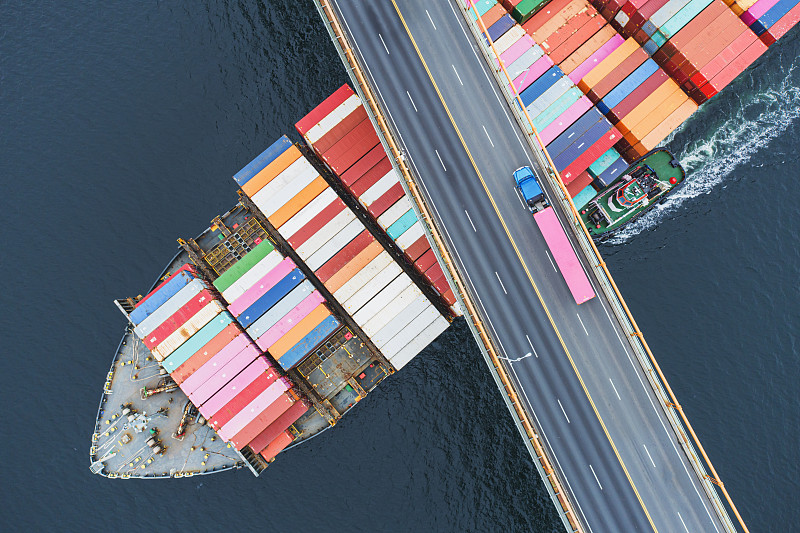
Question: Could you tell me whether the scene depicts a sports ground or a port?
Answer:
port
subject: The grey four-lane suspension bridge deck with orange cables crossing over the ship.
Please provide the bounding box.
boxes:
[313,0,748,533]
